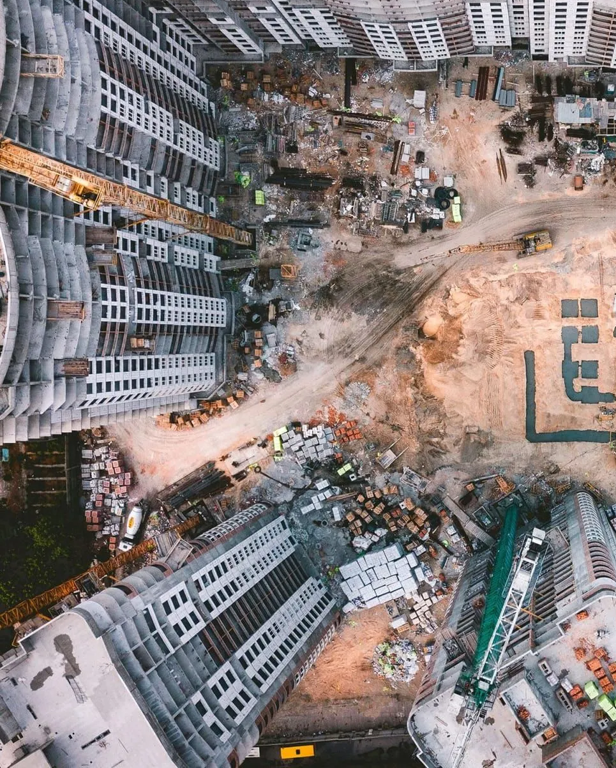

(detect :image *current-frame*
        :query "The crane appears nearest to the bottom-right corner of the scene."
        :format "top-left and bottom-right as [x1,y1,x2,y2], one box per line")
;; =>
[439,488,557,768]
